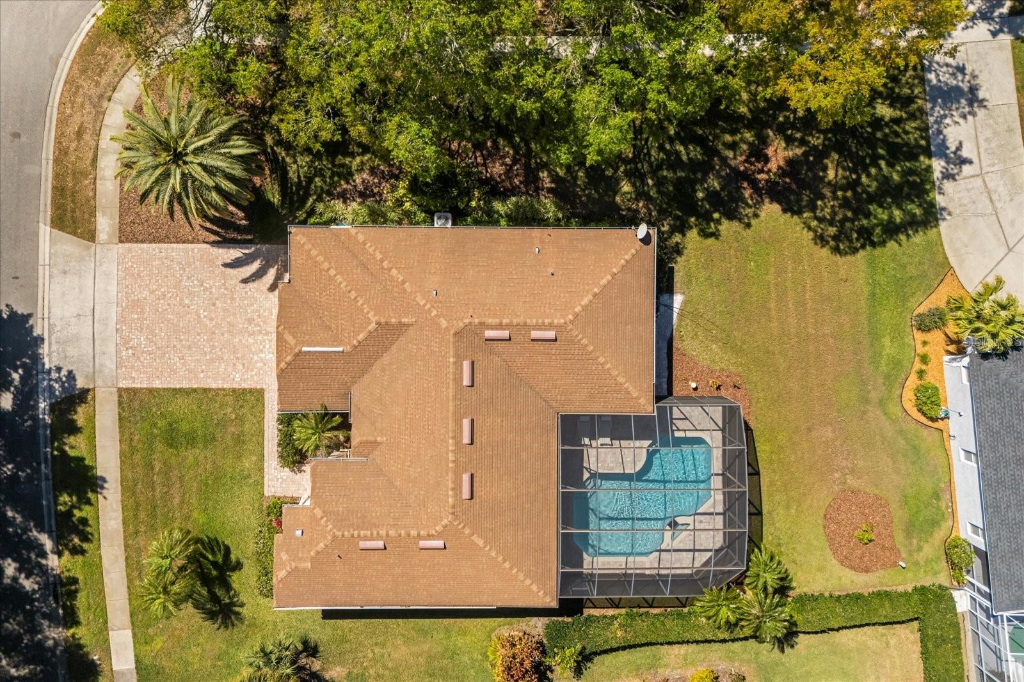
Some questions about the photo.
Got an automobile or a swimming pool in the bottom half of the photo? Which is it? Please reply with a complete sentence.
There is a swimming pool in the bottom half of the photo.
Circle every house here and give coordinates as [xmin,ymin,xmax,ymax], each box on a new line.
[274,225,658,610]
[941,325,1024,619]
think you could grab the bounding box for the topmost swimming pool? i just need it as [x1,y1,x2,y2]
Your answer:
[569,432,717,562]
